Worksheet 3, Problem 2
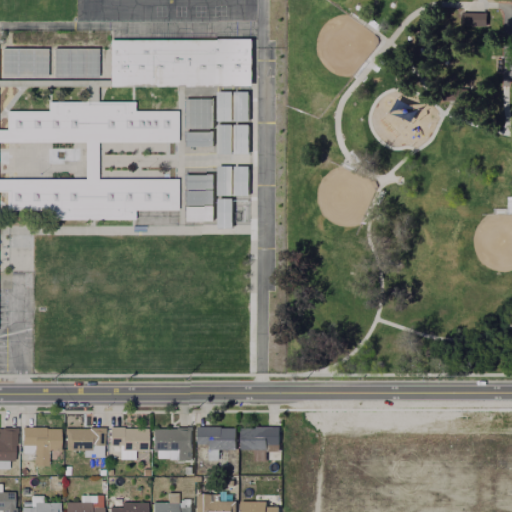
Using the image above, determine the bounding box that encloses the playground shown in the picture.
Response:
[368,88,444,150]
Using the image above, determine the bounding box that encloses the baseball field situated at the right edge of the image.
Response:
[476,212,512,274]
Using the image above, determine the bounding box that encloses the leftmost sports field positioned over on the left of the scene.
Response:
[34,236,251,374]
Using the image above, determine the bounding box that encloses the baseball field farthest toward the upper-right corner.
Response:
[316,14,382,76]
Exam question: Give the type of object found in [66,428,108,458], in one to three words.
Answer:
house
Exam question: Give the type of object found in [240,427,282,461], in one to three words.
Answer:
house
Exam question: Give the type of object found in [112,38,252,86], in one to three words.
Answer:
building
